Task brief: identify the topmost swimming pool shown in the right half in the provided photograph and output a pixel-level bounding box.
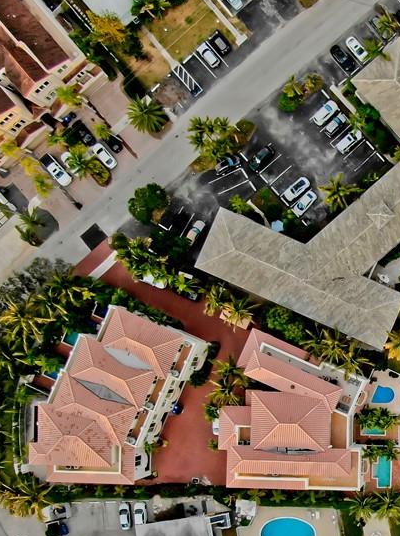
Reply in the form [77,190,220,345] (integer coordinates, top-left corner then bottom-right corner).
[370,383,397,405]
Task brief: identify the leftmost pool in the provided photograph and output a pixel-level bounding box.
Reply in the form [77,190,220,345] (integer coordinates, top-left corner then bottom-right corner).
[40,366,62,386]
